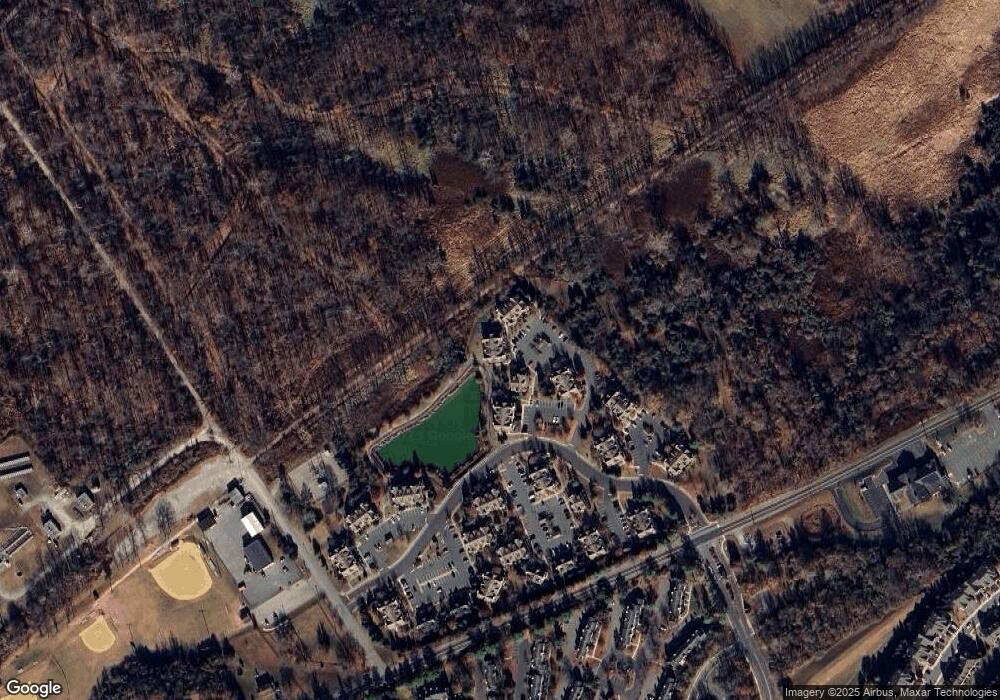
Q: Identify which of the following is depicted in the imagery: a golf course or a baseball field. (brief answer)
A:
baseball field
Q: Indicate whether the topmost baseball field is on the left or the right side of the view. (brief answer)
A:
left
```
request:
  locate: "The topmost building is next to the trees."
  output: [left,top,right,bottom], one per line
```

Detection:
[495,296,533,332]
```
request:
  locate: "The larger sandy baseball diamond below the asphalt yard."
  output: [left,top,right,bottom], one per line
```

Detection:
[149,531,212,600]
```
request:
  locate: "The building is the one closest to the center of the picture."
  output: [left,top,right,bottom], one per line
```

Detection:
[480,335,505,363]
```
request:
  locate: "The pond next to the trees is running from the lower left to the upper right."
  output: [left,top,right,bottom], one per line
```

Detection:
[378,377,480,471]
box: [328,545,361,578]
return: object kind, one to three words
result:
building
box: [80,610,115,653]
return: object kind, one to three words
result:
baseball field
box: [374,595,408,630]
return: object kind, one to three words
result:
building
